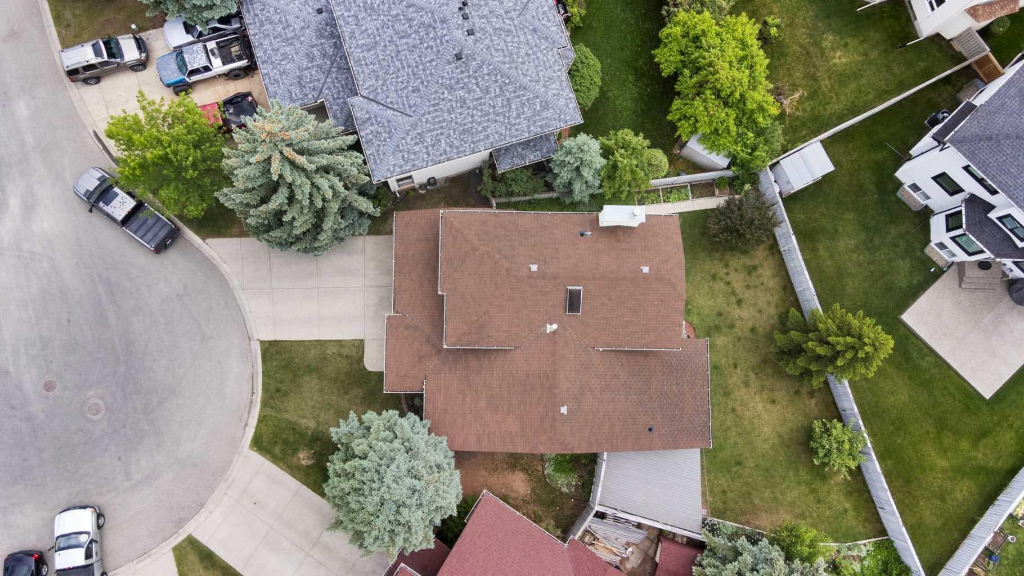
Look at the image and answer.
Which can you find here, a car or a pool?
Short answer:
car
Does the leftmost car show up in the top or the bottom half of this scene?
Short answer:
bottom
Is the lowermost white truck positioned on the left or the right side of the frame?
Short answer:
left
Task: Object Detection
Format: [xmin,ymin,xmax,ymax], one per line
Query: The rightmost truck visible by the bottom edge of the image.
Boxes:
[49,500,109,576]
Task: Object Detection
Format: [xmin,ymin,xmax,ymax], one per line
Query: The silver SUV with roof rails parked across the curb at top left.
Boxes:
[55,35,154,89]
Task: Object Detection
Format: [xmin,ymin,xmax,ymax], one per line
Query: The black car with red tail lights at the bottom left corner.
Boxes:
[3,544,52,576]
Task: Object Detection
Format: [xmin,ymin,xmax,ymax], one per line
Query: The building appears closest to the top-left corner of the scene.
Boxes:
[240,0,584,206]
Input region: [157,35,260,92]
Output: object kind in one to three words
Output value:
truck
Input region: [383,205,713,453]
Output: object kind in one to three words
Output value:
house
